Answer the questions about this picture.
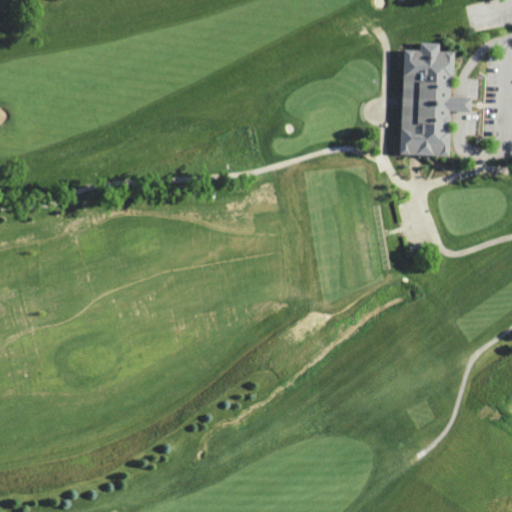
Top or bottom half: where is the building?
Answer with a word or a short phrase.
top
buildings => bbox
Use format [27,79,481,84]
[400,43,470,158]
